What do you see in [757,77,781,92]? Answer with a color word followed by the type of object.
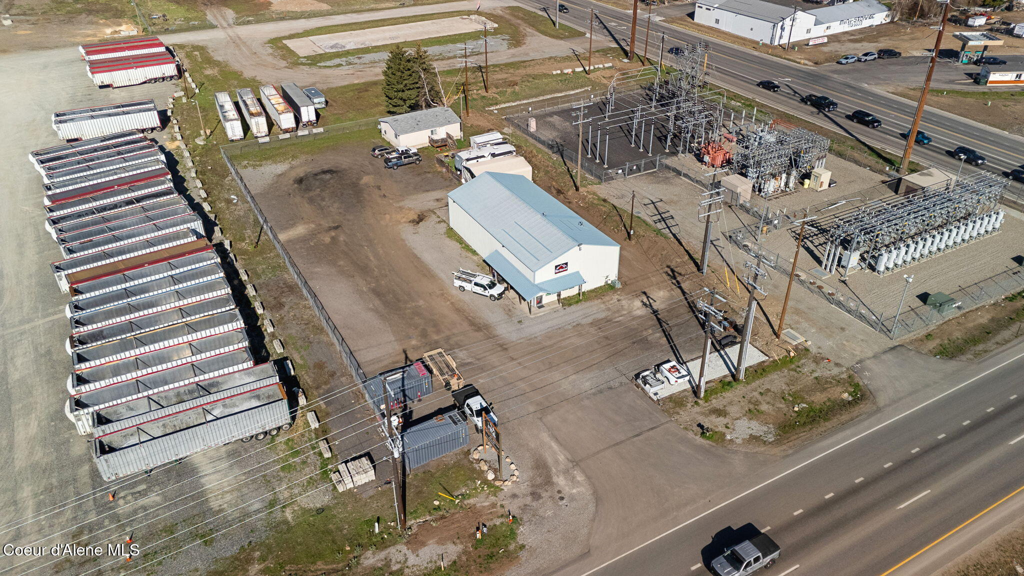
black car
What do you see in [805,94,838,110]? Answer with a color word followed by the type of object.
black vehicle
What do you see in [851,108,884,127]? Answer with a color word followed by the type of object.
black car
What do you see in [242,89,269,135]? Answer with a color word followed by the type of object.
white trailer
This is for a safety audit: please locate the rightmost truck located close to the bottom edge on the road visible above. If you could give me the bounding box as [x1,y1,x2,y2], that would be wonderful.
[709,532,792,576]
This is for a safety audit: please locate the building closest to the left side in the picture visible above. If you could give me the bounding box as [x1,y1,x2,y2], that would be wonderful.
[377,107,461,148]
